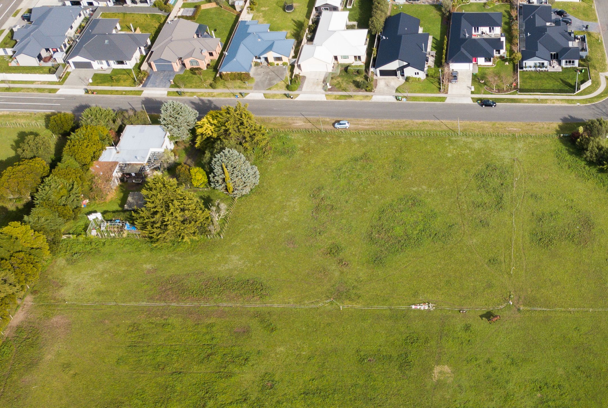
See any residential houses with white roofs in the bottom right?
No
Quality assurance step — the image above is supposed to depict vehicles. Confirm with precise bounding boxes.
[450,70,459,81]
[334,122,351,130]
[555,18,572,25]
[553,8,568,17]
[481,101,497,109]
[18,13,34,21]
